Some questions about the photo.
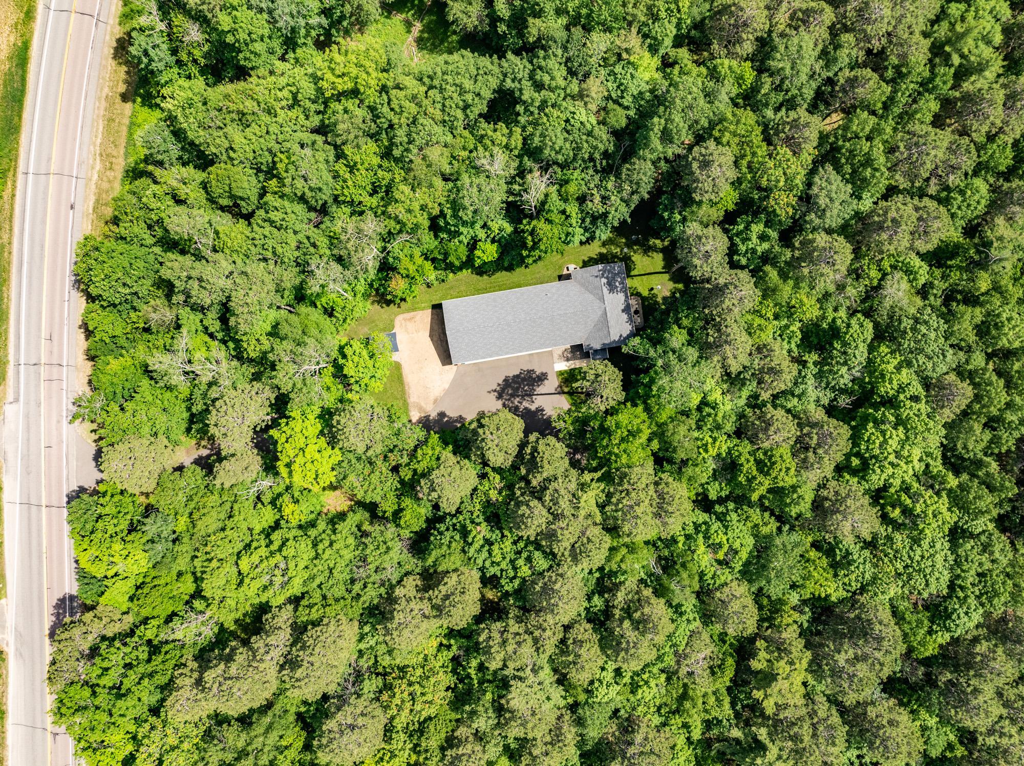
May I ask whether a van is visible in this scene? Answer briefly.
No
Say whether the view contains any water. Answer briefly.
No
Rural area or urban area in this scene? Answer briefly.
rural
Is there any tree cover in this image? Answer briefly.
Yes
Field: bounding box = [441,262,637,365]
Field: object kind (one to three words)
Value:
house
